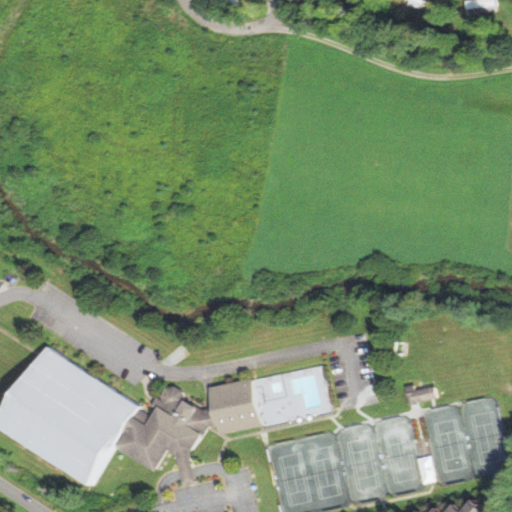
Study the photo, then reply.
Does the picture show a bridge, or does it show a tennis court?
tennis court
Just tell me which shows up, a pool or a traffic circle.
pool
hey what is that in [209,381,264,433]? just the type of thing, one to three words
building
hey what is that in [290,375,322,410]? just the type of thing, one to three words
swimming pool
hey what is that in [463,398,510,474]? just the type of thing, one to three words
tennis court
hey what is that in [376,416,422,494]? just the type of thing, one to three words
tennis court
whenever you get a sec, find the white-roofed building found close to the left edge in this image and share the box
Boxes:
[0,346,144,485]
